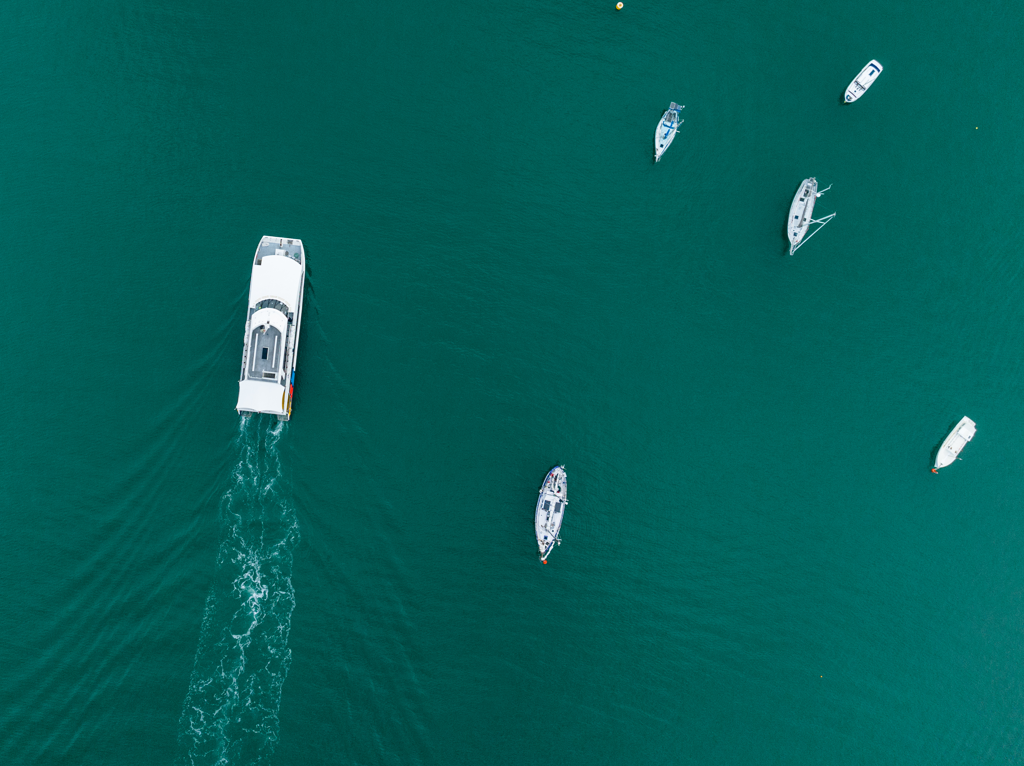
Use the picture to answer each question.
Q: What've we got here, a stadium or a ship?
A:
ship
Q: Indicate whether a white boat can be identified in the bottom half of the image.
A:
Yes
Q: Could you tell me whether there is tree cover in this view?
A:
No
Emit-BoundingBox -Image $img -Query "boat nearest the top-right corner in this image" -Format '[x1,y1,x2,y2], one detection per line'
[844,59,884,102]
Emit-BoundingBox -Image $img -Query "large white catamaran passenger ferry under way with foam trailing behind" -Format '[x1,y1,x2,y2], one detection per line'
[234,235,306,421]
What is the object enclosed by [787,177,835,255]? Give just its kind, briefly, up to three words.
boat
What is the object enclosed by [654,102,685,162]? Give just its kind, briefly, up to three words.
boat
